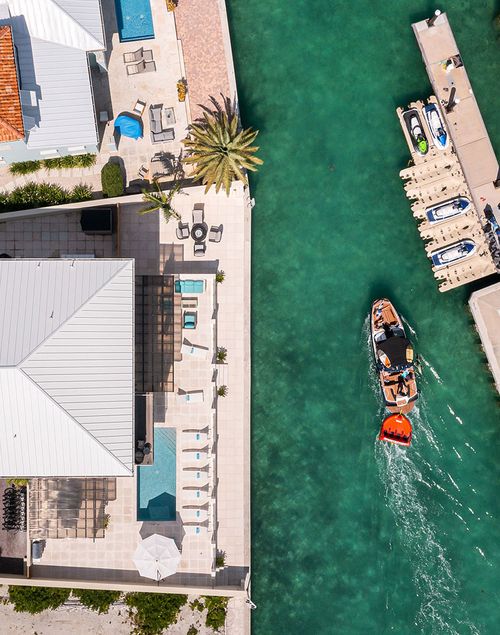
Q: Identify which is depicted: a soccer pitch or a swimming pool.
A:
swimming pool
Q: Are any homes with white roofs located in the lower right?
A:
No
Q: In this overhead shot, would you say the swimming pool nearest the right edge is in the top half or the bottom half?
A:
bottom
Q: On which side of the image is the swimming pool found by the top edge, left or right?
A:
left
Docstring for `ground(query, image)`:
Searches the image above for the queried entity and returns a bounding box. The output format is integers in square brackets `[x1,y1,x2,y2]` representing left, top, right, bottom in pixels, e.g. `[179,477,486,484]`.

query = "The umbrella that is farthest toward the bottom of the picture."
[133,530,182,582]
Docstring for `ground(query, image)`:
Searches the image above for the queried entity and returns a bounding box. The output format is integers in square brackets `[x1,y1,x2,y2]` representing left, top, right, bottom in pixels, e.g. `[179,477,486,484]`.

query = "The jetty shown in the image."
[411,14,500,272]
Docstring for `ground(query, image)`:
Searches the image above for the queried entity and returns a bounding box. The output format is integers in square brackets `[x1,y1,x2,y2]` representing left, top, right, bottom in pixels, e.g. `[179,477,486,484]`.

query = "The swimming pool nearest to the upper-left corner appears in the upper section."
[113,0,158,47]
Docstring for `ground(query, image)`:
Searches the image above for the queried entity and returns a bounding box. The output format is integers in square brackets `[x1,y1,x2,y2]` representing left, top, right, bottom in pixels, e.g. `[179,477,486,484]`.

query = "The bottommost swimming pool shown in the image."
[137,428,176,522]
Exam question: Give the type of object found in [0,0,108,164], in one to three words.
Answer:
house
